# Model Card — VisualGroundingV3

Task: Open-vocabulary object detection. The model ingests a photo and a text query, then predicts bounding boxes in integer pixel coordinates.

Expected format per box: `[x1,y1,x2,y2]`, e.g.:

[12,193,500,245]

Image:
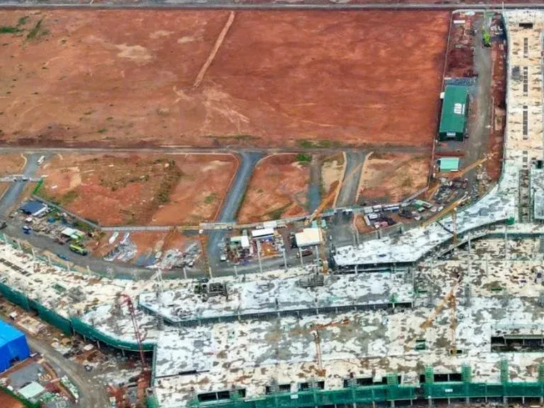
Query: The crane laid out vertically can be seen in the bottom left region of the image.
[126,297,150,385]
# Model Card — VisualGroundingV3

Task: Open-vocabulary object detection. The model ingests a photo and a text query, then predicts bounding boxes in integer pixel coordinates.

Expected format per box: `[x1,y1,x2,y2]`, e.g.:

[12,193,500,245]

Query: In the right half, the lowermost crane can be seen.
[309,317,349,374]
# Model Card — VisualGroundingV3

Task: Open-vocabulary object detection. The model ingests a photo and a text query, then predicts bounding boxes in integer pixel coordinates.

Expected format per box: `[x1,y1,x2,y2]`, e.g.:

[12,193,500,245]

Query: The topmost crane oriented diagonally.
[425,153,494,207]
